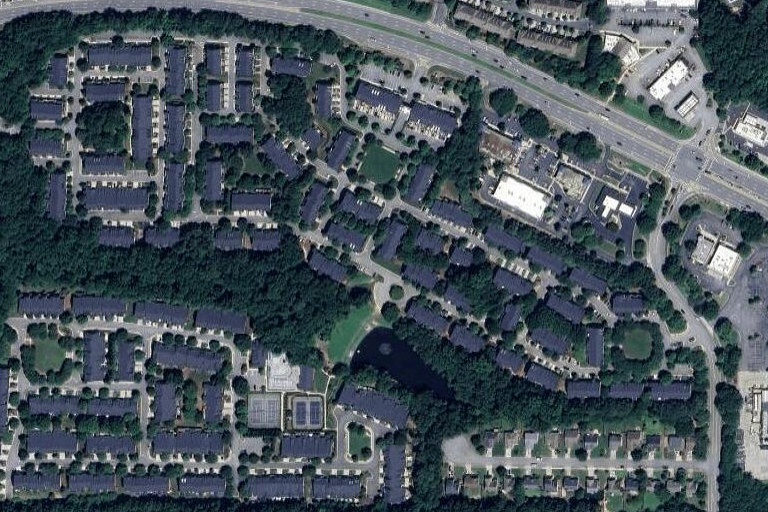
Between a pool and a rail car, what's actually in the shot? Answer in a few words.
pool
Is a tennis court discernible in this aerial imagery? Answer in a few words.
Yes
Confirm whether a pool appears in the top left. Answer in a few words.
No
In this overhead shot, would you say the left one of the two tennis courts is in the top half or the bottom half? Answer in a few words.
bottom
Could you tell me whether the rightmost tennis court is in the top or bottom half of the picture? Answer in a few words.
bottom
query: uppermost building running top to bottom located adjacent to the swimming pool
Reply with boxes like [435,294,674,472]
[252,340,265,365]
